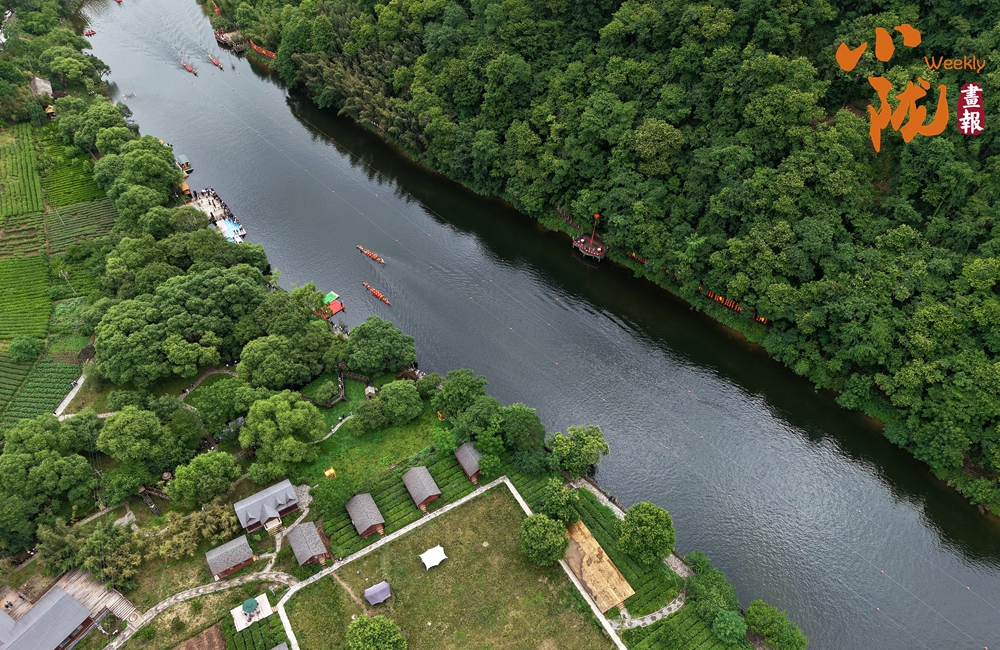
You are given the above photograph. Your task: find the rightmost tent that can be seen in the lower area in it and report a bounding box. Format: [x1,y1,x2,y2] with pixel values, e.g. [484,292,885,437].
[417,544,454,576]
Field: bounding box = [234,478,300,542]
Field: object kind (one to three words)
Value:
house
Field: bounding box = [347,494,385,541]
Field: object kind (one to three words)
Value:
building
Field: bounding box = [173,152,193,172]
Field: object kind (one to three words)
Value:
boat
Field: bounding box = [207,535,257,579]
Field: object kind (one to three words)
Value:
building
